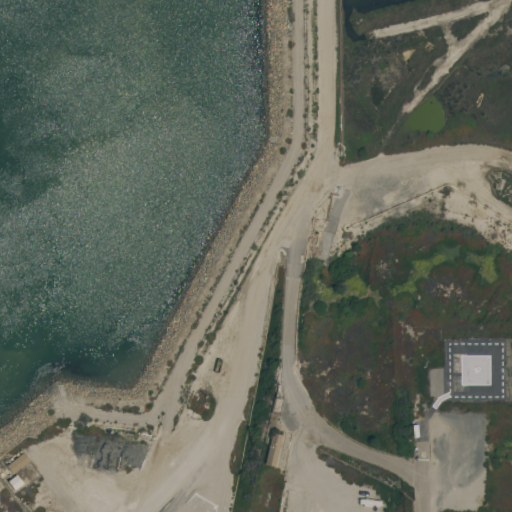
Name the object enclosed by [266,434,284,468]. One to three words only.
building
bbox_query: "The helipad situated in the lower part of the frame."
[444,340,506,400]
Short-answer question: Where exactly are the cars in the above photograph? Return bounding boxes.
[6,456,15,464]
[359,491,369,496]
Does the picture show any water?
Yes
